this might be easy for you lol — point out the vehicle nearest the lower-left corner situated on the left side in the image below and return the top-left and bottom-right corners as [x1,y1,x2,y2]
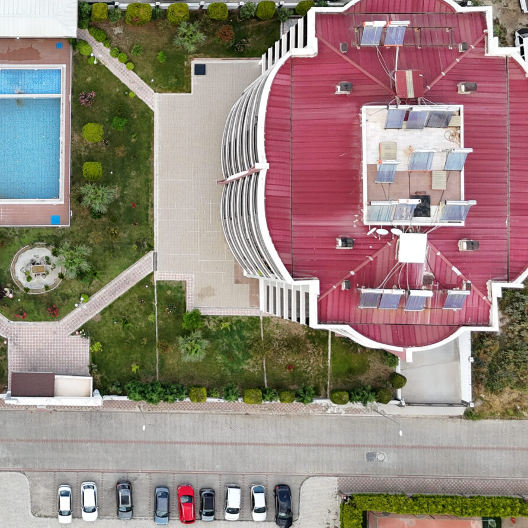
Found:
[56,485,73,525]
